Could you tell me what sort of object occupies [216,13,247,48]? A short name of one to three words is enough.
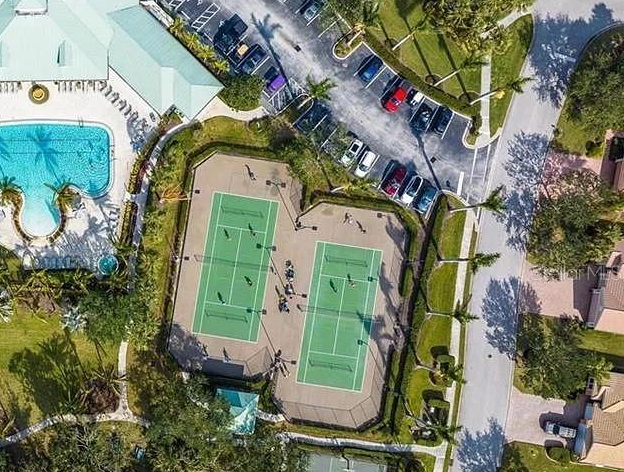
truck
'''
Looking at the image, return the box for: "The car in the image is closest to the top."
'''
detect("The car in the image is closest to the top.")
[300,0,323,22]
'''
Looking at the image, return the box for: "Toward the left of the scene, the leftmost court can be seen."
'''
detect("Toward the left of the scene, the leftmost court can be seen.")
[168,153,302,380]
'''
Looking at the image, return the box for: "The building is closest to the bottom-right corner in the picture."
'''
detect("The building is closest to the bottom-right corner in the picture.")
[571,372,624,468]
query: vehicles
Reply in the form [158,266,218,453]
[353,149,378,177]
[381,83,406,114]
[430,107,454,135]
[356,58,382,84]
[384,166,408,194]
[241,47,266,75]
[542,420,578,438]
[399,174,424,202]
[408,91,426,108]
[265,72,288,97]
[216,13,247,48]
[339,138,365,166]
[235,39,251,58]
[300,0,323,22]
[410,103,435,132]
